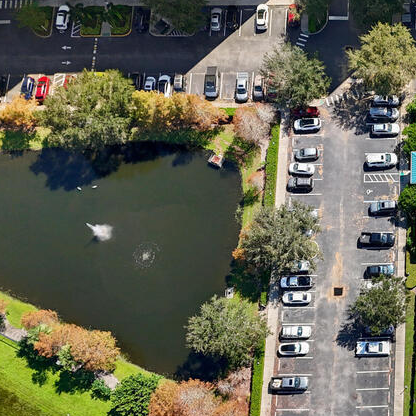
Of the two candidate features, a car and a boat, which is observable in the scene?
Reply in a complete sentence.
This aerial view contains a car.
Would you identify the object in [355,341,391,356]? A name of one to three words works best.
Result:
vehicle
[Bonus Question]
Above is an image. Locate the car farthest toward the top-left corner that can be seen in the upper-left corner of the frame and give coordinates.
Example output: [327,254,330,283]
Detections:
[55,5,70,30]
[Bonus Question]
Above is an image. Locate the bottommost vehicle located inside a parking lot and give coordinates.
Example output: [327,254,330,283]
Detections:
[271,375,308,390]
